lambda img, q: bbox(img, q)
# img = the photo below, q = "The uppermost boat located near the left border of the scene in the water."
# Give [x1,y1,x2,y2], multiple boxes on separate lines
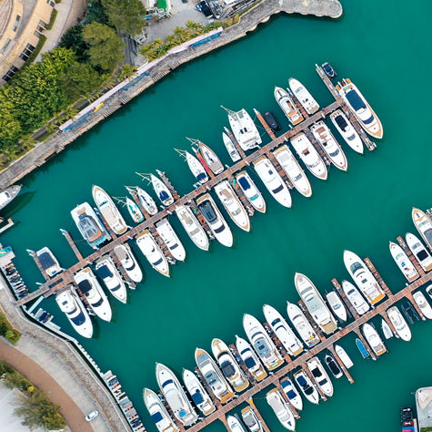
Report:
[0,185,21,212]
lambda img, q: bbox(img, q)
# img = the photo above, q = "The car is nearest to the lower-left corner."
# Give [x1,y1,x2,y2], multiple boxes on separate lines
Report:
[85,409,101,422]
